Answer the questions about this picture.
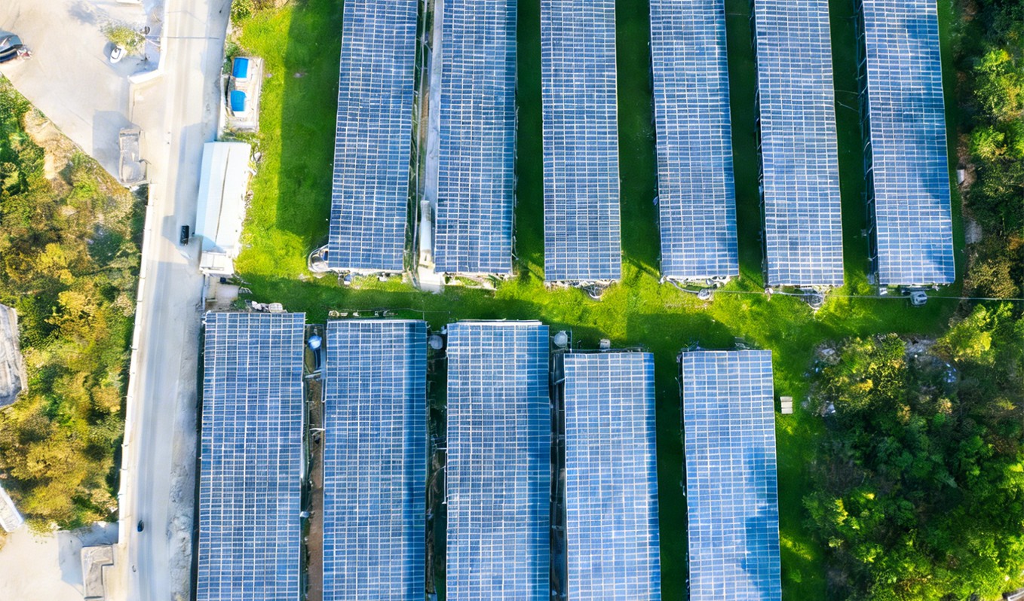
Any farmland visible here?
No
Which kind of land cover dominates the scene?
buildings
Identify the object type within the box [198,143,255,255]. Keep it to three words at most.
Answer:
shed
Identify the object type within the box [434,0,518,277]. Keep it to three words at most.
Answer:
shed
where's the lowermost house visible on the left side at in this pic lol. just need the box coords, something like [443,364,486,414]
[80,543,122,601]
